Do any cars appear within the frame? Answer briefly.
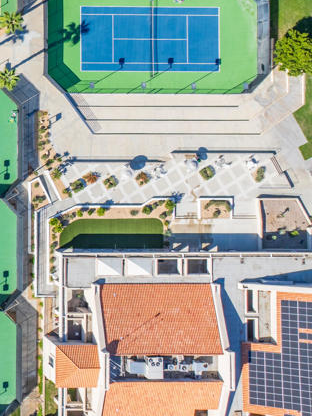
No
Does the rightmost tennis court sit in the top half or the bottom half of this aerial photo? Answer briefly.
top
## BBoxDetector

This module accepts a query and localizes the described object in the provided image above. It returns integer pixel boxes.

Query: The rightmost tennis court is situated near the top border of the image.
[44,0,257,92]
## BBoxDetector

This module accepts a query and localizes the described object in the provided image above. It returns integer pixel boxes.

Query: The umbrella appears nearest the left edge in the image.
[117,166,134,182]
